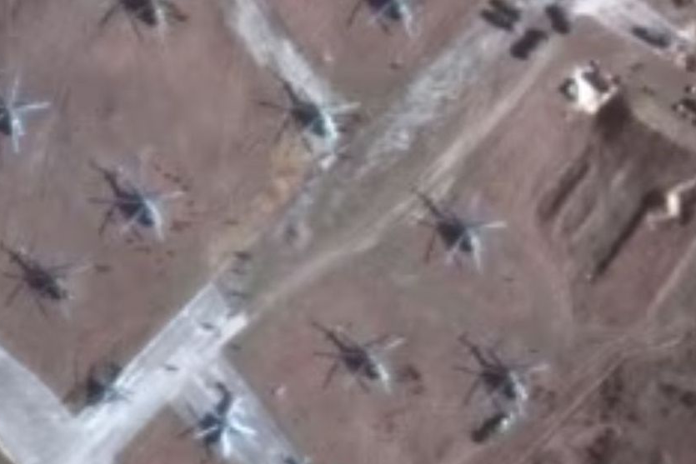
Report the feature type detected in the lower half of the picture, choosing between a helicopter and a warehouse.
helicopter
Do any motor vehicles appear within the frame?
Yes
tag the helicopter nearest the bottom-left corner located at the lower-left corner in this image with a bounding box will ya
[83,355,142,422]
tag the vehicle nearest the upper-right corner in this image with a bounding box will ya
[638,23,674,47]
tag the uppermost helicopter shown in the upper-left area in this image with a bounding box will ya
[120,0,162,33]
